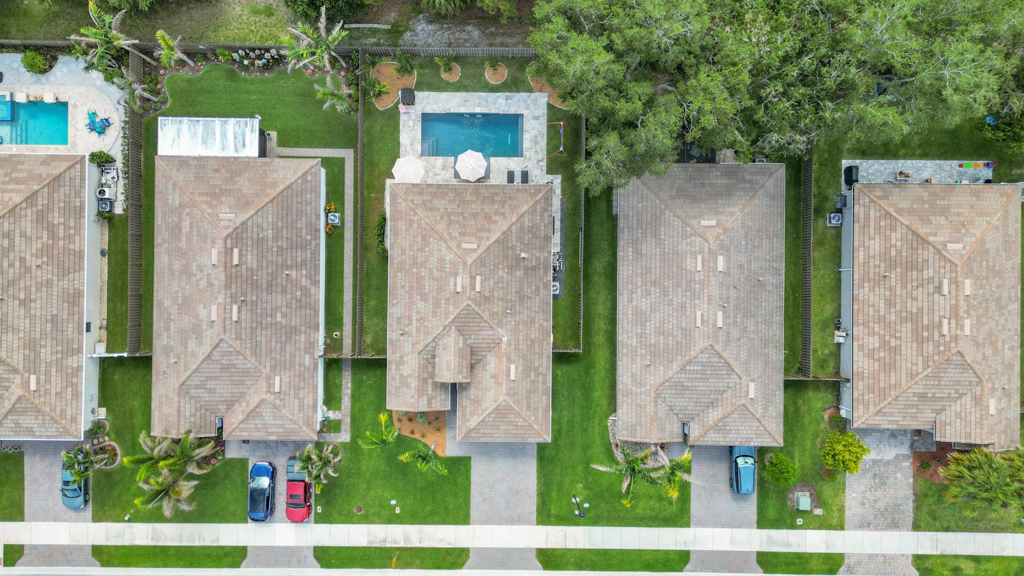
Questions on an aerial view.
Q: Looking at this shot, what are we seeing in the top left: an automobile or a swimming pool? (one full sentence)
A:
The one visible in the top left is a swimming pool.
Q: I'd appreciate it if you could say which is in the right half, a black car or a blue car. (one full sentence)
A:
There is a blue car in the right half.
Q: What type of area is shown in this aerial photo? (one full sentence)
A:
It's a residential area.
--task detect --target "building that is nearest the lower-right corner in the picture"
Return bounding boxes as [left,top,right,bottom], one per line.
[834,182,1024,450]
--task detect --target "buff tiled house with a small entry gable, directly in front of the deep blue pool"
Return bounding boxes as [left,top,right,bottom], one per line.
[385,182,554,443]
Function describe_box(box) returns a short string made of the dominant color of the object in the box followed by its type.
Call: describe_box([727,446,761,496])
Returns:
blue car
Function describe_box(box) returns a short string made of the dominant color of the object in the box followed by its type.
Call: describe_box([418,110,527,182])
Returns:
blue swimming pool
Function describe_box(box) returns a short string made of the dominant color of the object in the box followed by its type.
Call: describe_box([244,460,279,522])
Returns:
blue car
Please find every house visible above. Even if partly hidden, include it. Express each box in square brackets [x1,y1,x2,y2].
[0,154,107,441]
[611,162,789,447]
[385,182,554,443]
[834,182,1024,450]
[151,155,328,441]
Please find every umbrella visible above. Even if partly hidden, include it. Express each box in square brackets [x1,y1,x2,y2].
[393,154,425,182]
[455,150,488,182]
